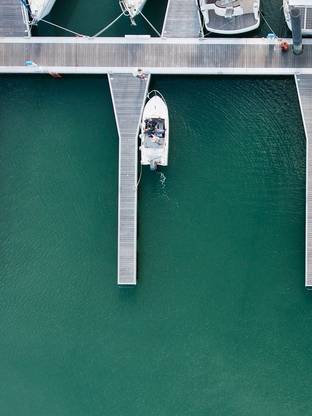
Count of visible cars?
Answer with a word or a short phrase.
0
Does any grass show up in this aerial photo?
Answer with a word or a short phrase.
No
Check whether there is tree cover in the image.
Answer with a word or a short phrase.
No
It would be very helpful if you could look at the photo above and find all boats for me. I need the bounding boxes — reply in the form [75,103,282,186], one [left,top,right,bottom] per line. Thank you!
[283,0,312,39]
[141,91,171,171]
[20,0,60,30]
[200,0,261,36]
[119,0,148,27]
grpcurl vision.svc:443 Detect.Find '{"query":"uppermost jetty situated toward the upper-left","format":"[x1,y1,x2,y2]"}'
[0,0,33,37]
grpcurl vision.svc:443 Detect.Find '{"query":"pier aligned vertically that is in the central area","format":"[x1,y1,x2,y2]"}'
[108,74,152,286]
